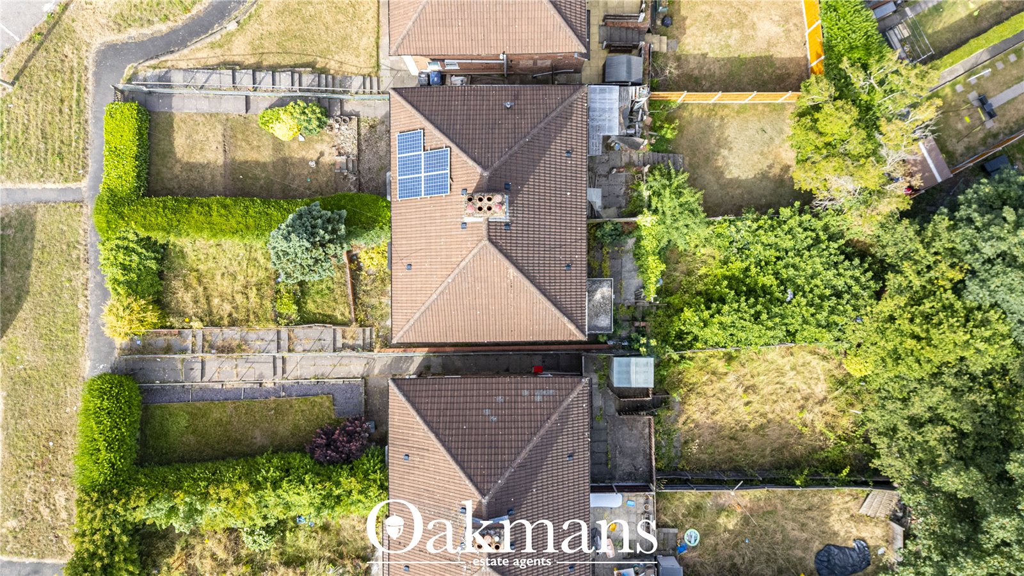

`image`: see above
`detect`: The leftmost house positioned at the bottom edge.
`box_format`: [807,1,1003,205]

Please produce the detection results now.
[387,370,591,576]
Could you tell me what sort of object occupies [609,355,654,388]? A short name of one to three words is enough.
shed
